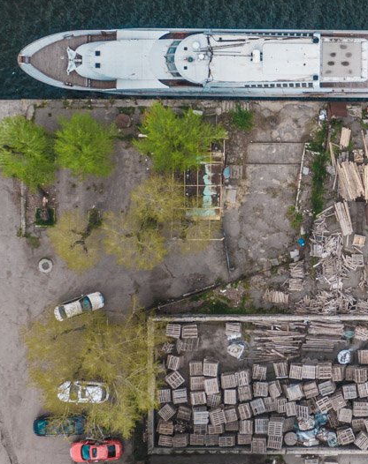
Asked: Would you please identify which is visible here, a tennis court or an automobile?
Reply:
automobile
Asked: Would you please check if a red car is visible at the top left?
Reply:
No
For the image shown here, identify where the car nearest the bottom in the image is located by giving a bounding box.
[70,440,124,464]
